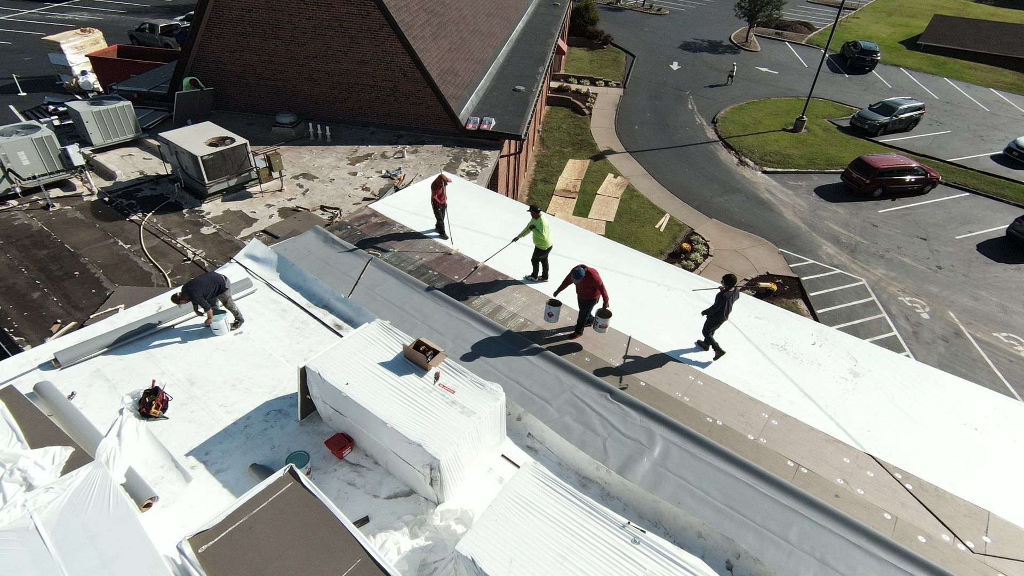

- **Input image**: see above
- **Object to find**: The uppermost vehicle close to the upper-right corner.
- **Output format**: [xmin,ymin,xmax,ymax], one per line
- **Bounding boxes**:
[842,43,880,68]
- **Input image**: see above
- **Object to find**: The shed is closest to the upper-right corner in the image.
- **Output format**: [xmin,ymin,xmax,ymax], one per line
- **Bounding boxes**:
[915,14,1024,72]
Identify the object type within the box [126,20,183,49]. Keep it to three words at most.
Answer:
truck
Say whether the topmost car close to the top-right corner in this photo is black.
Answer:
Yes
